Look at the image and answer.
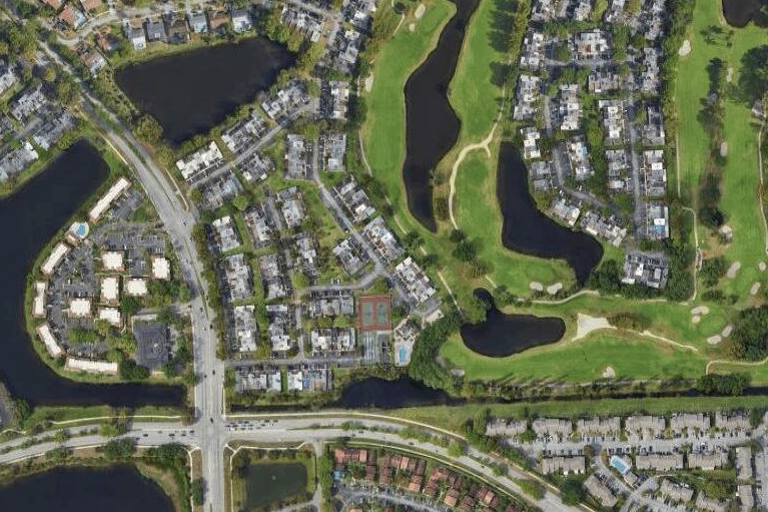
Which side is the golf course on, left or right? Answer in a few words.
right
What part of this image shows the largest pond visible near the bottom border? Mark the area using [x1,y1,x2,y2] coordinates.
[246,463,307,508]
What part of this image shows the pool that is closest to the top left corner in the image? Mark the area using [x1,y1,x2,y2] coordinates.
[71,221,91,239]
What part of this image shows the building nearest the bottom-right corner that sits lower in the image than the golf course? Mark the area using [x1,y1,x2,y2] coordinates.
[739,485,754,512]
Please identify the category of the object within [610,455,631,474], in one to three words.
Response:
swimming pool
